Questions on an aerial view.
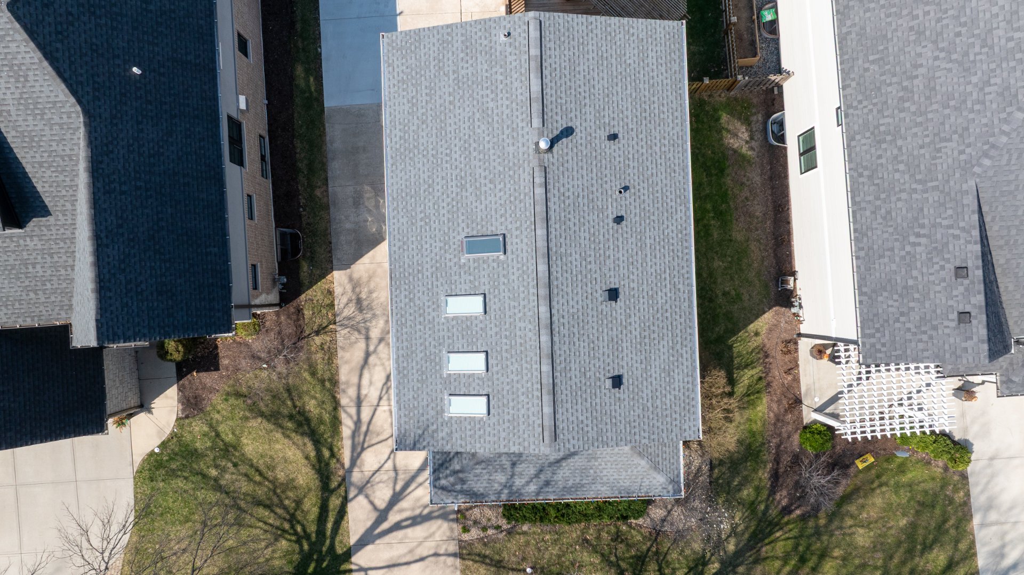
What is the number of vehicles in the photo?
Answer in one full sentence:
The picture shows no vehicles.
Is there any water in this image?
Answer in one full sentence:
No, there's no water in this view.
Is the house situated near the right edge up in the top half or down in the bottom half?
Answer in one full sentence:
The top half of the photo is where the house situated near the right edge is.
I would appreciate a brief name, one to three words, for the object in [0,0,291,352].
house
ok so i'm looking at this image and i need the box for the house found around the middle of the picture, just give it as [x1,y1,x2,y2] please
[381,14,702,513]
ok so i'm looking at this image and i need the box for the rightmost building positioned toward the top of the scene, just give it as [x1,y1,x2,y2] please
[780,0,1024,399]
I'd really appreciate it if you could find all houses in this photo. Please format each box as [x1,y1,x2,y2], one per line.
[381,14,702,513]
[0,0,291,352]
[780,0,1024,399]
